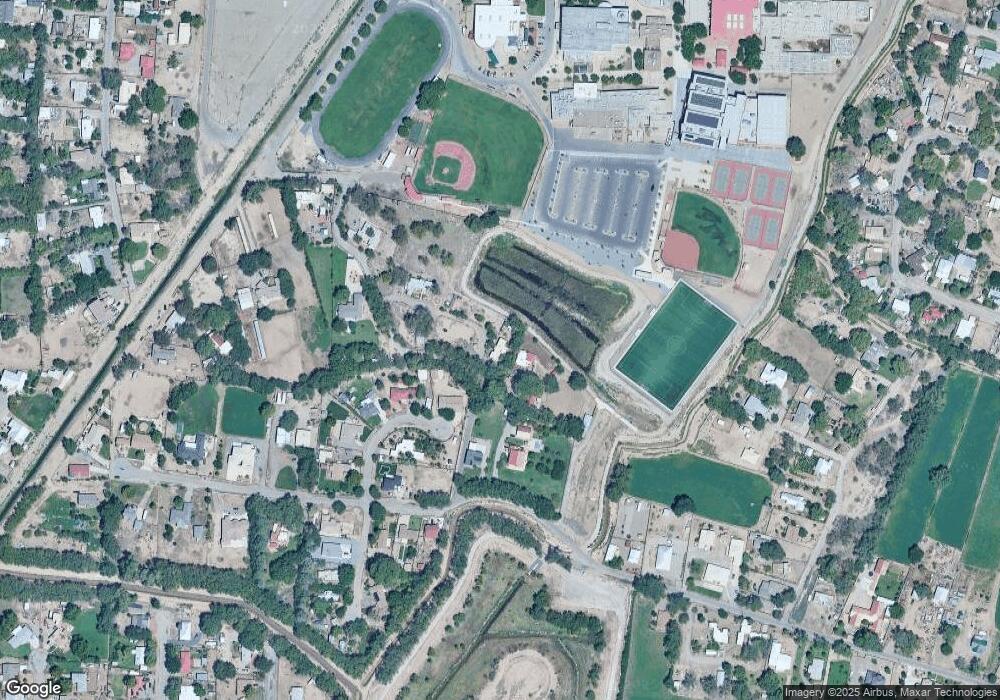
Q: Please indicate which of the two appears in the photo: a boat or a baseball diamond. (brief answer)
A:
baseball diamond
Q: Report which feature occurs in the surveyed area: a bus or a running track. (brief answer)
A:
running track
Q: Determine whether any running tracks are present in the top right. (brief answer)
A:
No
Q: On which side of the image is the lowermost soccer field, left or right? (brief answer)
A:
right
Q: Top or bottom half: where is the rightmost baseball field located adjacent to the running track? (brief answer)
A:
top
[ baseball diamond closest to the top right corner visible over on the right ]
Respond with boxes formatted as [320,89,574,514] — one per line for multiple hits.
[659,188,743,281]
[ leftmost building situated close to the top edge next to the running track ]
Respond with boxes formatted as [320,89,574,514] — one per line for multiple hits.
[475,0,526,48]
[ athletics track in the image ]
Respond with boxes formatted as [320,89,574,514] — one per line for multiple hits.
[311,2,451,166]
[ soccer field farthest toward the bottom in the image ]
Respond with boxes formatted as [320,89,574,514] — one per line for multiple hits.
[614,280,738,412]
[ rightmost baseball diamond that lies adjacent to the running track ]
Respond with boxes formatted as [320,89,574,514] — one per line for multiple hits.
[414,79,545,206]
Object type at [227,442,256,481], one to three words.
house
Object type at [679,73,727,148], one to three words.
building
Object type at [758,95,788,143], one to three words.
building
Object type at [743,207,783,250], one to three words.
tennis court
